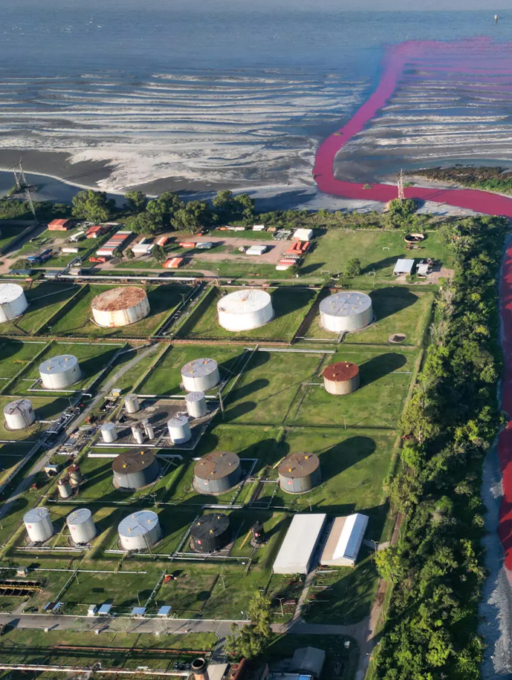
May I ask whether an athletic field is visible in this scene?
Yes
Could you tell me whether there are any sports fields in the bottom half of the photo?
No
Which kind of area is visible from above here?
industrial area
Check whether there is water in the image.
Yes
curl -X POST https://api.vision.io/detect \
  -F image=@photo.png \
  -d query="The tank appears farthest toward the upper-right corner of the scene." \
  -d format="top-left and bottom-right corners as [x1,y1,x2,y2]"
[318,290,376,335]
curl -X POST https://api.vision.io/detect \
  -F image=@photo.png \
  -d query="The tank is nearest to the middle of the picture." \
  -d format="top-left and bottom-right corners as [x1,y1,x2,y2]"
[217,287,278,334]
